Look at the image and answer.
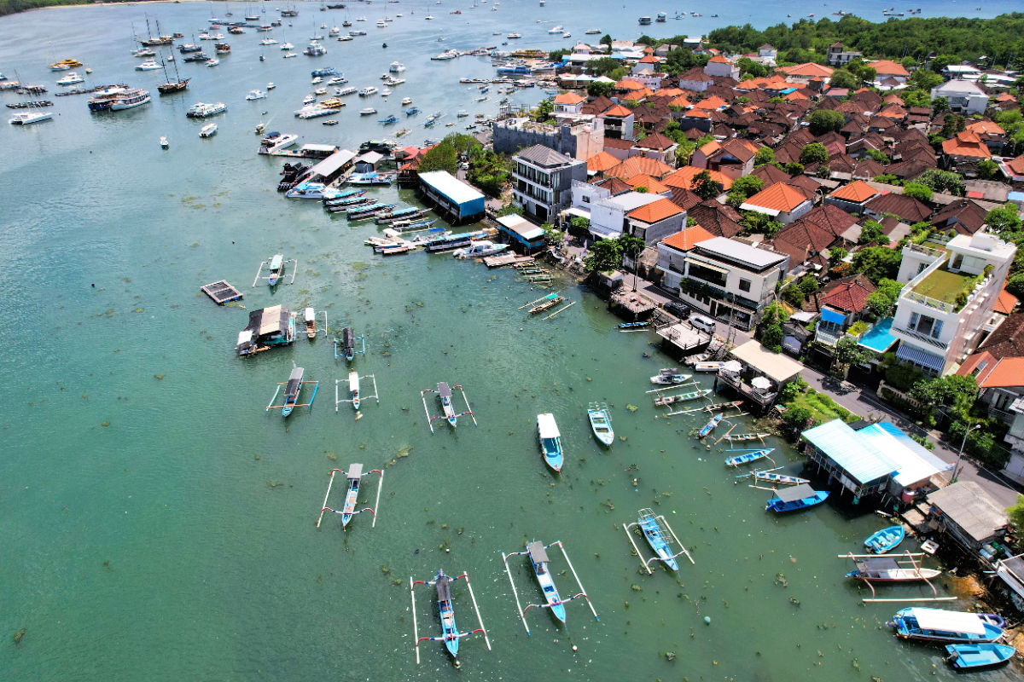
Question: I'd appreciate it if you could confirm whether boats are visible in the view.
Yes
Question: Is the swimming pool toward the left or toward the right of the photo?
right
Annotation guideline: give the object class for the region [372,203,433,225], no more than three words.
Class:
boat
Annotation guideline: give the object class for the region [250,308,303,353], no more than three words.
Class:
house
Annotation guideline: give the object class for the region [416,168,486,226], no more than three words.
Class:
shed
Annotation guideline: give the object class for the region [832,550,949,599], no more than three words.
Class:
boat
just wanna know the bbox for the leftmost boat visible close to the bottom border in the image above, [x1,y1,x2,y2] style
[412,563,486,665]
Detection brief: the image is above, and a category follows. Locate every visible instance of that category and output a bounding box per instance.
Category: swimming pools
[853,316,894,370]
